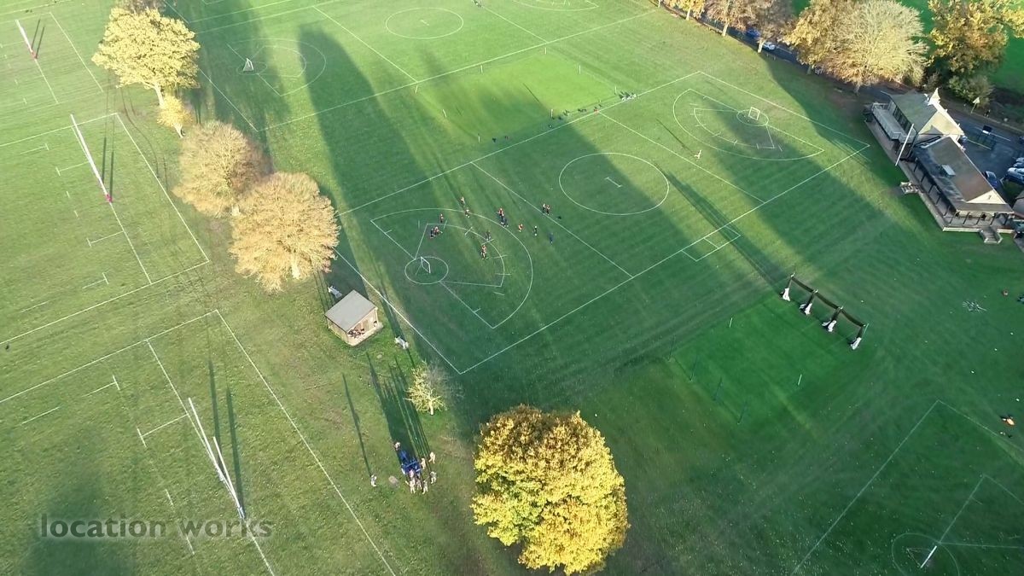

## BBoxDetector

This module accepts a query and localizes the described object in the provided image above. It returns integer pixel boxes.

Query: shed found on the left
[321,294,381,347]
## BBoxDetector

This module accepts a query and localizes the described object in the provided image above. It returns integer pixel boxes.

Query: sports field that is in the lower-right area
[696,347,1024,576]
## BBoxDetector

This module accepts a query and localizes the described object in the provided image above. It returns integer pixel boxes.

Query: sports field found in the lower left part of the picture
[0,306,403,576]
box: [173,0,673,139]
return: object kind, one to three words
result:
sports field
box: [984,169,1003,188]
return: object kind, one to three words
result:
car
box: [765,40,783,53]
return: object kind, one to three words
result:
vehicle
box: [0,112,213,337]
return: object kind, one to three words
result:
sports field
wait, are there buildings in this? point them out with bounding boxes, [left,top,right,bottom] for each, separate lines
[859,82,1018,243]
[321,294,381,347]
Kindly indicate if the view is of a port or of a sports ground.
sports ground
